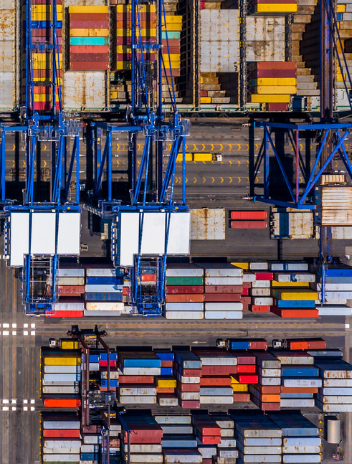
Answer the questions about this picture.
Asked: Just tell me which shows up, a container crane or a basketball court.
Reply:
container crane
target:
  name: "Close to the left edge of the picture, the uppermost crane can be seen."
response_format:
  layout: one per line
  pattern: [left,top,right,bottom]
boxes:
[0,0,82,315]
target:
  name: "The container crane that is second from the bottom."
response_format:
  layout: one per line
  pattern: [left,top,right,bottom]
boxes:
[66,328,113,429]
